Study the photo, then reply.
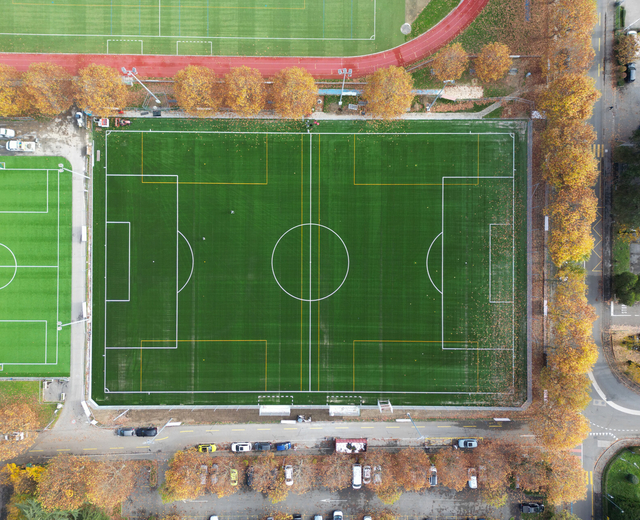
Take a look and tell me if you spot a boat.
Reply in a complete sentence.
No, there's no boat here.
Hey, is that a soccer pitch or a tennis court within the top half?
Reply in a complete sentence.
There is a soccer pitch within the top half.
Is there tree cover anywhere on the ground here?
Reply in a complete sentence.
Yes, tree cover shows up in the scene.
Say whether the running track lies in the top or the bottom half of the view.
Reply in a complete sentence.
Seen from above, the running track lies in the top half of the view.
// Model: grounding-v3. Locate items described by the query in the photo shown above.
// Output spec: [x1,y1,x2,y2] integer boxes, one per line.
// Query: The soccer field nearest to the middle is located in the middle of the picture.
[91,118,531,409]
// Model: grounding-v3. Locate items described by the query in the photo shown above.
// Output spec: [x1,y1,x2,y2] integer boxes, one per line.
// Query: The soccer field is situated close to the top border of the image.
[0,0,406,57]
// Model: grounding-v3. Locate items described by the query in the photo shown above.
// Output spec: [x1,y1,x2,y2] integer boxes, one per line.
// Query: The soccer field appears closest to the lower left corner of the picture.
[0,156,71,380]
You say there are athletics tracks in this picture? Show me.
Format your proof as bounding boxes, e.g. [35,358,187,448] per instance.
[0,0,487,79]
